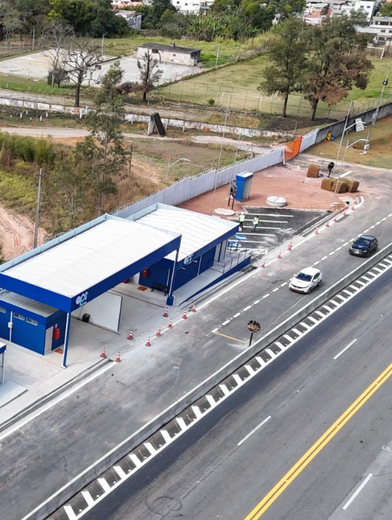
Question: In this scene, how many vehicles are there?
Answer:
two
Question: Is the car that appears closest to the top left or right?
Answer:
right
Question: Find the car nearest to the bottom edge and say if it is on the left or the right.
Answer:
right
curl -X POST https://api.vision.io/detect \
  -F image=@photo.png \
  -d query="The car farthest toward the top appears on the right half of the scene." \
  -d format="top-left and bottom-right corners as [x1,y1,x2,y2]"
[351,232,382,256]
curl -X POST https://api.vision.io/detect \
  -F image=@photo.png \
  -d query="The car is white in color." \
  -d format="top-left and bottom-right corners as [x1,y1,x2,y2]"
[289,263,325,291]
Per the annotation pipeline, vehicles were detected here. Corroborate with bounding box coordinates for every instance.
[351,232,382,256]
[289,263,325,291]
